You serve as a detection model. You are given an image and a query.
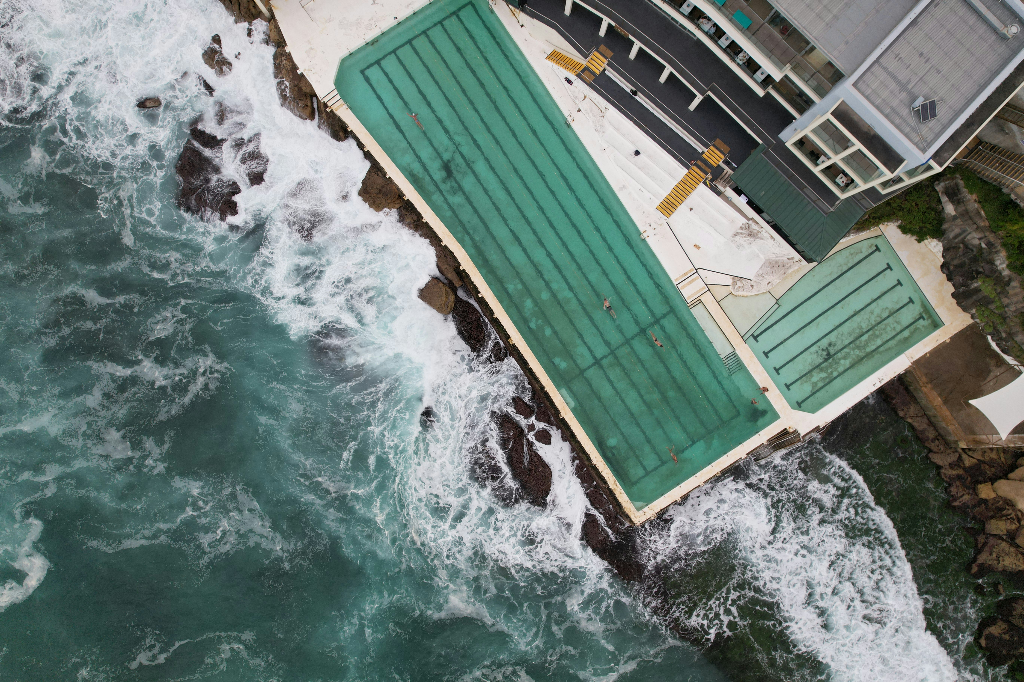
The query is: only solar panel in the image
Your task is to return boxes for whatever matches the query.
[912,98,945,122]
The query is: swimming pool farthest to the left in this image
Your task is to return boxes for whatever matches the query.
[340,0,772,509]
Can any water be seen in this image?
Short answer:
Yes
